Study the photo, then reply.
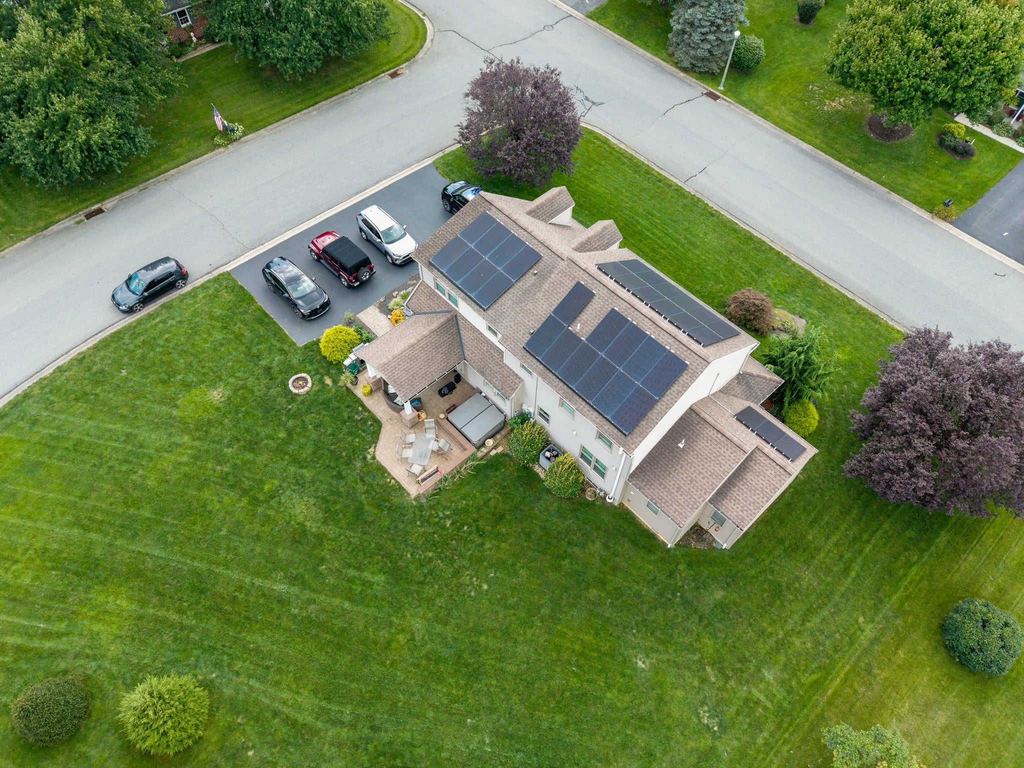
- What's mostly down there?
grass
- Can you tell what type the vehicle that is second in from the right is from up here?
automobile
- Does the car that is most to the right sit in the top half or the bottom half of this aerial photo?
top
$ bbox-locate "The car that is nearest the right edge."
[440,180,491,214]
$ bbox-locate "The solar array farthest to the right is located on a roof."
[734,405,806,461]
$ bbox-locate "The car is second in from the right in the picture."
[355,205,420,266]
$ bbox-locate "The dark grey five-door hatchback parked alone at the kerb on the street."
[110,256,191,314]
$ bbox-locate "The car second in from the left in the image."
[260,258,332,322]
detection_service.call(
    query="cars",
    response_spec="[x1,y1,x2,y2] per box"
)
[260,258,332,322]
[440,180,491,214]
[355,205,420,266]
[110,256,191,314]
[307,230,378,289]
